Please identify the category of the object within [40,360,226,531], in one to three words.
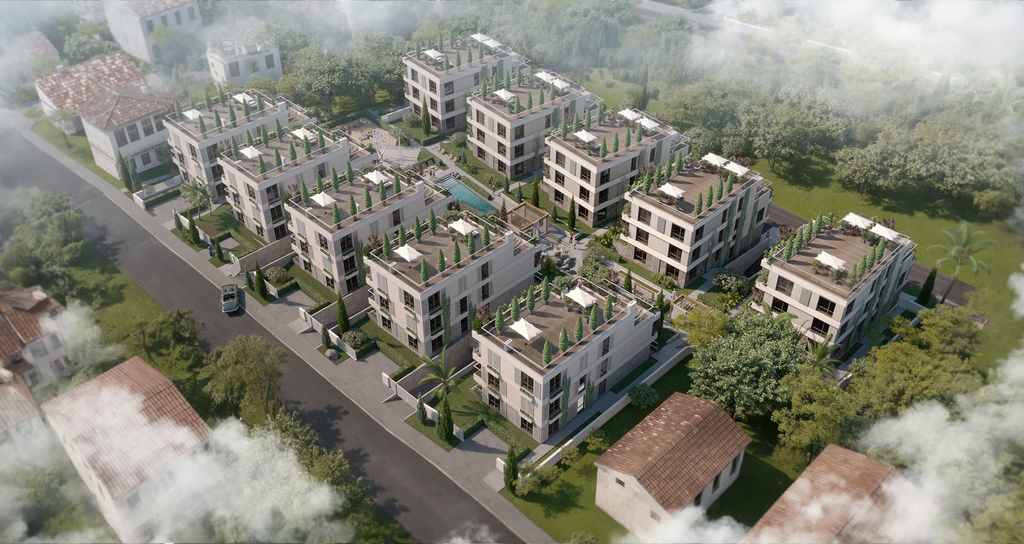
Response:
house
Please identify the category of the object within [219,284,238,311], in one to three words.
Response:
car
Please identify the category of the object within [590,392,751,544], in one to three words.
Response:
house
